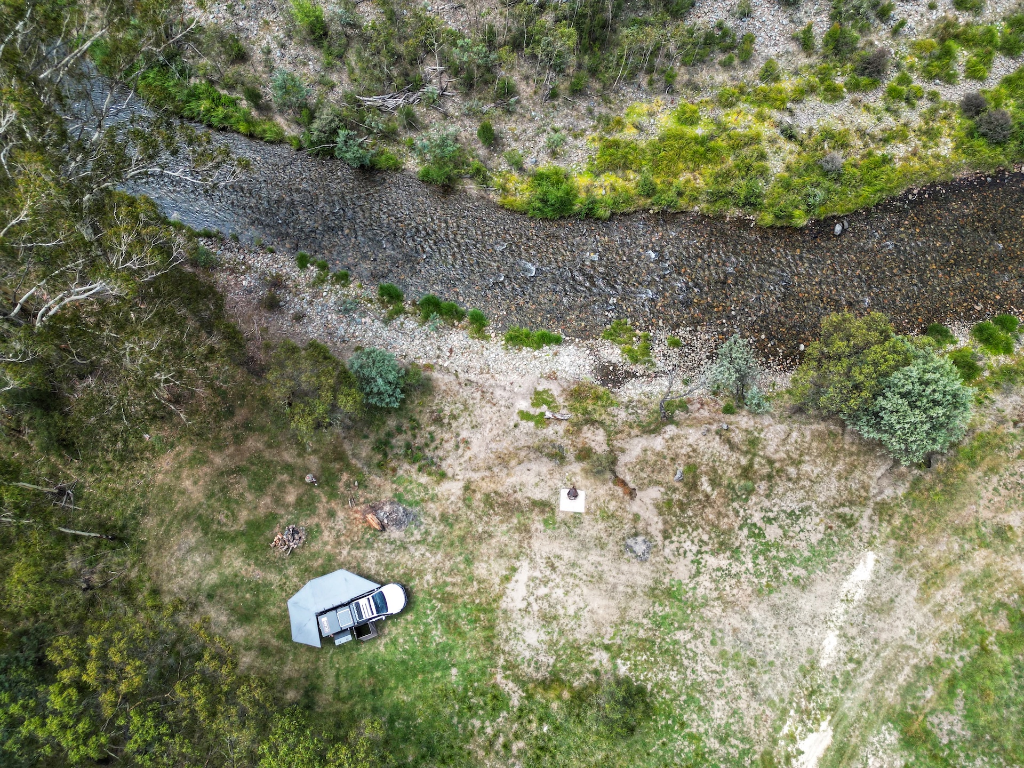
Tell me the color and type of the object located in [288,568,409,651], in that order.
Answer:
white truck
